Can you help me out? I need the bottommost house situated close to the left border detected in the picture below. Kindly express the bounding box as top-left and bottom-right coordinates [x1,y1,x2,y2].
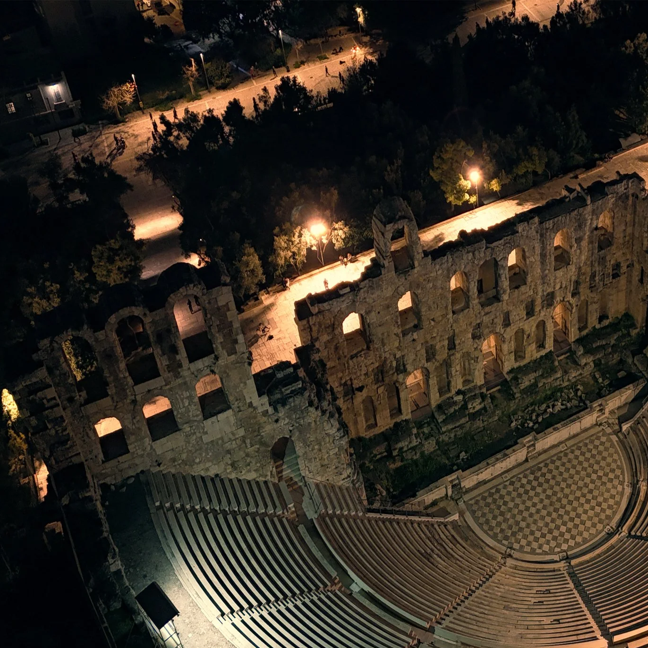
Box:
[0,50,83,120]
